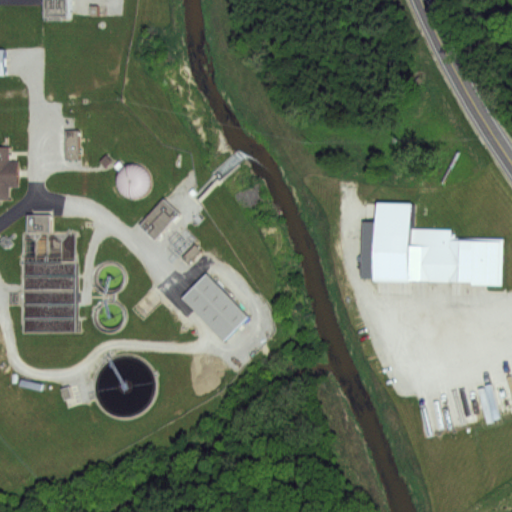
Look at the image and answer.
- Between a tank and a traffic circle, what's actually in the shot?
tank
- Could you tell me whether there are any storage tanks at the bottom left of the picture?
Yes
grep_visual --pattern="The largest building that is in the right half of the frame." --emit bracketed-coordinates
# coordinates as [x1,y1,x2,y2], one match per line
[372,202,504,287]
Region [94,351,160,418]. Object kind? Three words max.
storage tank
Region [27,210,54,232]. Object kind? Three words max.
building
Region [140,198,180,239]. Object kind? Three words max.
building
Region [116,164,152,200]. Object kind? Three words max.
storage tank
